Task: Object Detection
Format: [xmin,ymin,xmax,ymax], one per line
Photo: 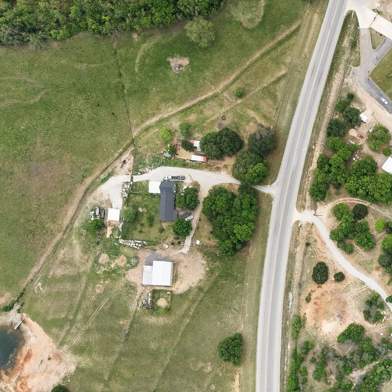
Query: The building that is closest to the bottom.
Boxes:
[143,261,174,286]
